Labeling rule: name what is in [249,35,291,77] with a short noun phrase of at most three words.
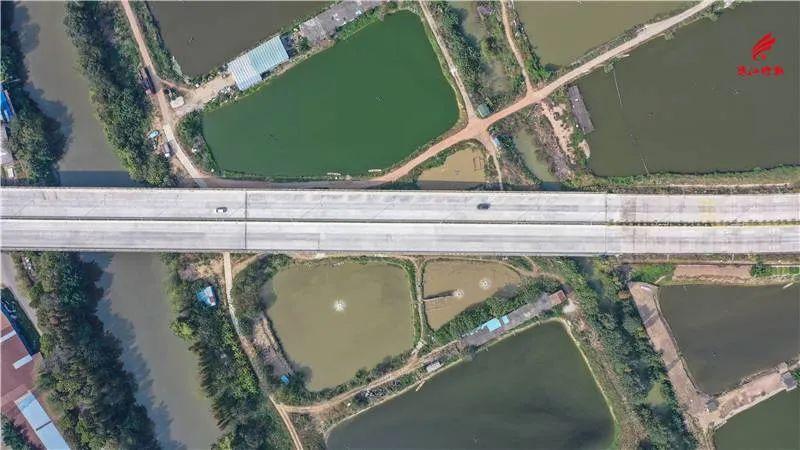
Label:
shed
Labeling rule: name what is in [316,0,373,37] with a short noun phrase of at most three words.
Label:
shed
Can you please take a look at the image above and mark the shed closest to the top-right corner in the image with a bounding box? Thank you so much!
[568,85,593,133]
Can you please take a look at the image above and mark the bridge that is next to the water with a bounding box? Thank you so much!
[0,187,800,255]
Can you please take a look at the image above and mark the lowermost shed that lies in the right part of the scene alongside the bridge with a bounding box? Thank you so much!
[462,296,555,346]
